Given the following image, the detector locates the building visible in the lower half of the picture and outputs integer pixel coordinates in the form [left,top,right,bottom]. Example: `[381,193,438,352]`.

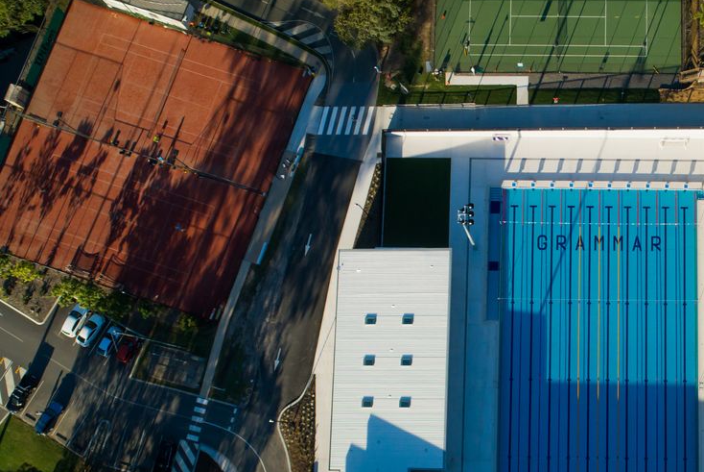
[330,248,452,472]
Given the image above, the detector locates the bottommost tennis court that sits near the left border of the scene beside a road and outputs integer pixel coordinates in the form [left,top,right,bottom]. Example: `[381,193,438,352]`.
[0,114,262,317]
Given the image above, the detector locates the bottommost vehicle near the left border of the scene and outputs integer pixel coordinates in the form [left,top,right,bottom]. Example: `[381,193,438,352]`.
[29,394,65,436]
